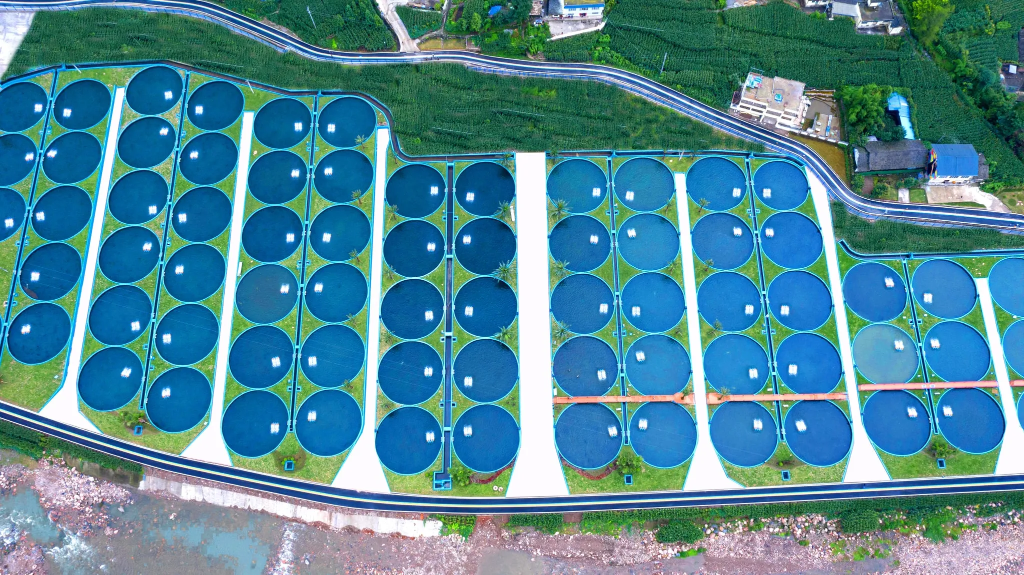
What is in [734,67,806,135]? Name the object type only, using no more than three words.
house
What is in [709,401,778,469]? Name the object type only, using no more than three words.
pond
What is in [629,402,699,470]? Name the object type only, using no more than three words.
pond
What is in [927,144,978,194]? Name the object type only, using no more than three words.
house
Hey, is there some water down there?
Yes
